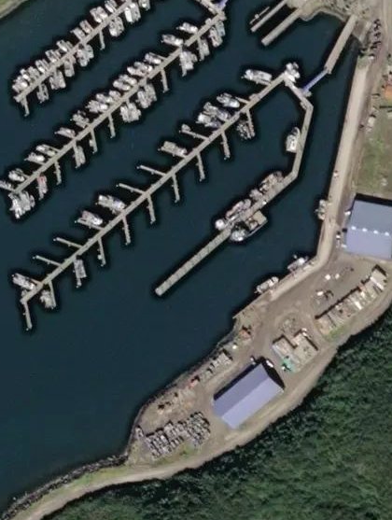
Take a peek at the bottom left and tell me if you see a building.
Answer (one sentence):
No, I can find no building at the bottom left.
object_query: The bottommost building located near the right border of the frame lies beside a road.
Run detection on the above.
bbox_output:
[345,199,392,258]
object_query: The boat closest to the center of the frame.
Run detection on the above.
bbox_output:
[216,218,229,230]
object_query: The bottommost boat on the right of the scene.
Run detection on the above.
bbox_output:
[256,277,278,294]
